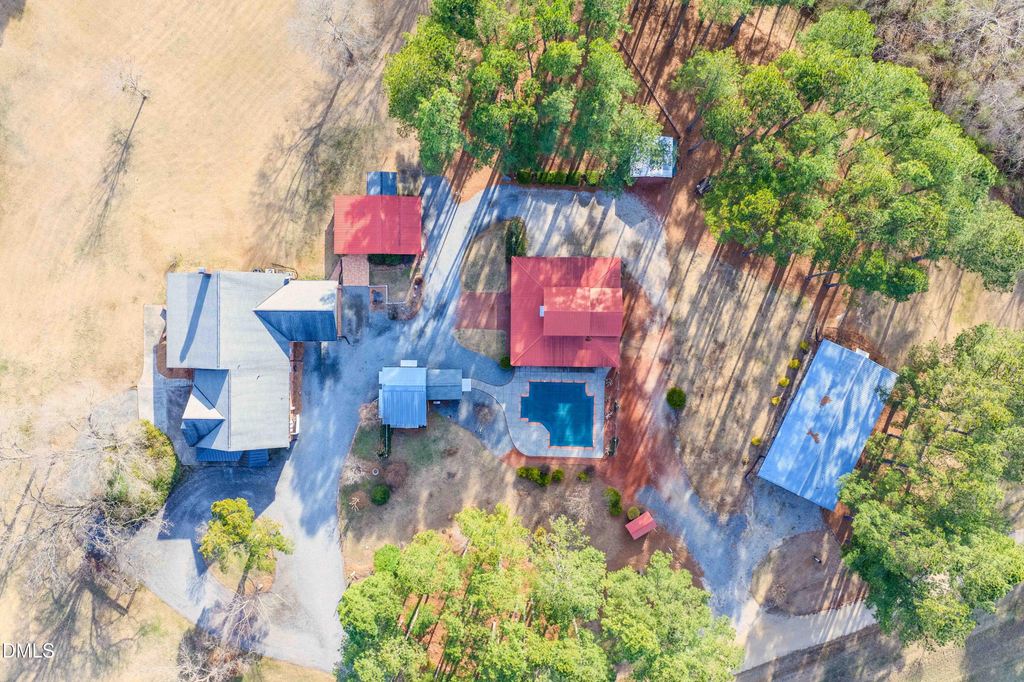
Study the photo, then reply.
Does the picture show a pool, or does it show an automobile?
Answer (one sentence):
The one in the frame is a pool.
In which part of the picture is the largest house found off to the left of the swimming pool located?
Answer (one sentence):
You can find the largest house found off to the left of the swimming pool in the left area of the picture.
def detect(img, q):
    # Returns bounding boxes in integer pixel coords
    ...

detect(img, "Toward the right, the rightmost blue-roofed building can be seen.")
[753,339,896,511]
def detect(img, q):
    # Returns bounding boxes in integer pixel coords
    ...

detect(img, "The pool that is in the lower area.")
[518,380,596,450]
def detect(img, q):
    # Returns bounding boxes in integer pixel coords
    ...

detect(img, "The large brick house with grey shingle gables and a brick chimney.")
[166,268,342,468]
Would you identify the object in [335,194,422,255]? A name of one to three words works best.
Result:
building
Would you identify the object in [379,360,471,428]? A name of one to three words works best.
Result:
shed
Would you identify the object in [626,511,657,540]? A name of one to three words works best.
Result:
shed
